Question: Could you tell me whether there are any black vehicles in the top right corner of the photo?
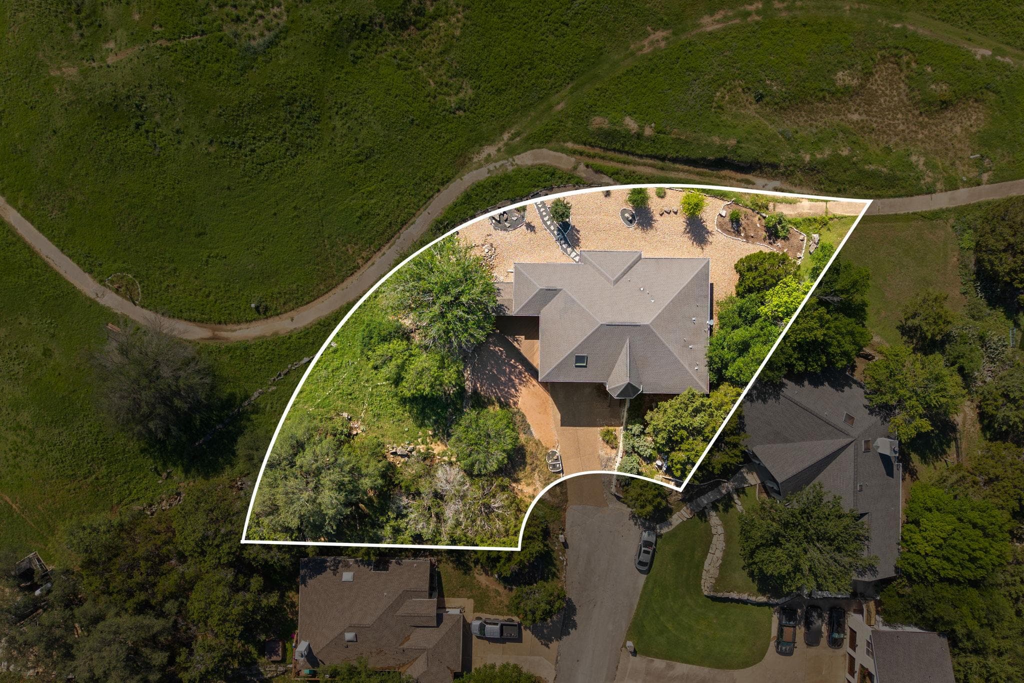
No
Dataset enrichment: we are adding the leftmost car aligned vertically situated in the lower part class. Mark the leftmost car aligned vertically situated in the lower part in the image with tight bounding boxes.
[636,532,658,574]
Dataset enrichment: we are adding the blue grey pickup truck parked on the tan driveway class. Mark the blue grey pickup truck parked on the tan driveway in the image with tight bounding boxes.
[470,619,519,643]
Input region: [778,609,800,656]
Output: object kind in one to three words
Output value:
car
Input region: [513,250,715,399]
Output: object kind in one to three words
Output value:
house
